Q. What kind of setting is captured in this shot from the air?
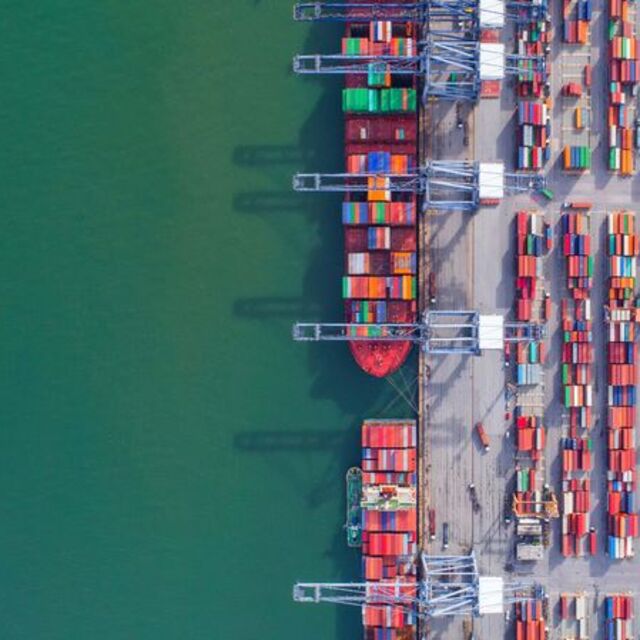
port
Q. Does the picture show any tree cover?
No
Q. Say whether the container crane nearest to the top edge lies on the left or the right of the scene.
right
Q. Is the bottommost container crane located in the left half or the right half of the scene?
right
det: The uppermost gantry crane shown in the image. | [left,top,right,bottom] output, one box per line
[292,0,546,65]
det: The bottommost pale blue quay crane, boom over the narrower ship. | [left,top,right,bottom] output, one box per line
[292,543,546,617]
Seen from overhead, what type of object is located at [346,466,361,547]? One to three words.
ship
